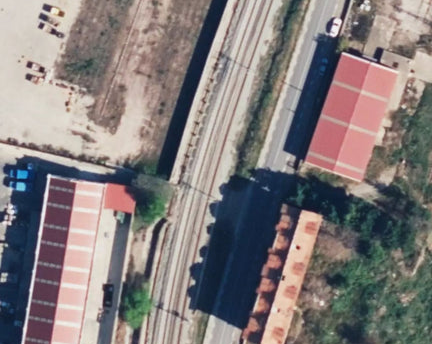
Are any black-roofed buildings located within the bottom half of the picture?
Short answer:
No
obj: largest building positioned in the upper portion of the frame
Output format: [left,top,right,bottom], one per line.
[304,52,397,183]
